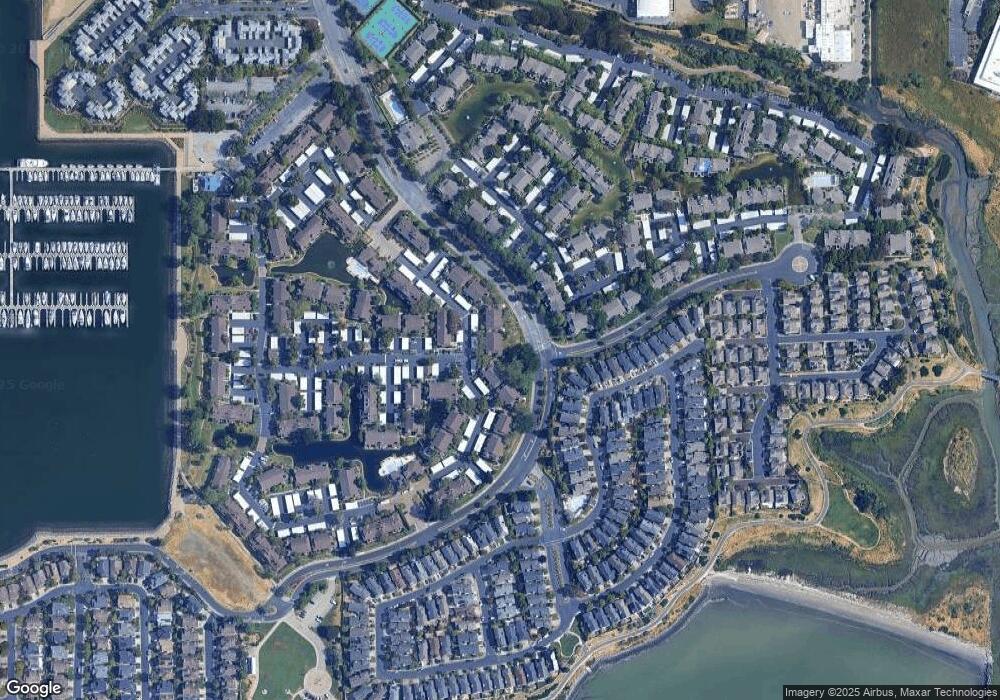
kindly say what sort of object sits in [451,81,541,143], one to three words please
pond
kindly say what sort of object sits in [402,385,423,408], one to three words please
building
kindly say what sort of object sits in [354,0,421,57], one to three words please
sports court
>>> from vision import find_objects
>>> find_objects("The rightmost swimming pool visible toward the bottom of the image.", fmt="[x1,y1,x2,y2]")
[563,495,588,519]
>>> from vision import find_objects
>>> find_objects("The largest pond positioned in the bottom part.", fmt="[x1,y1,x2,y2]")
[271,418,402,495]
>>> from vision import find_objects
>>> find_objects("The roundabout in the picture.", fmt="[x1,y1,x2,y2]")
[779,244,819,284]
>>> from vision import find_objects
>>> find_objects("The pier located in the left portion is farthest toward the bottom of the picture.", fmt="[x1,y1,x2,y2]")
[0,294,128,326]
